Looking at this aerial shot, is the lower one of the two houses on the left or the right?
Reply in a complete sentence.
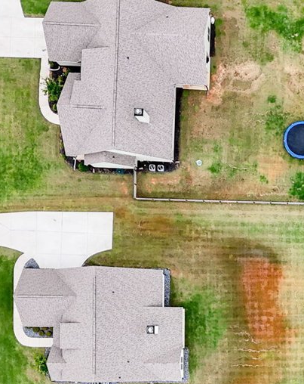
The lower one of the two houses sits on the left side.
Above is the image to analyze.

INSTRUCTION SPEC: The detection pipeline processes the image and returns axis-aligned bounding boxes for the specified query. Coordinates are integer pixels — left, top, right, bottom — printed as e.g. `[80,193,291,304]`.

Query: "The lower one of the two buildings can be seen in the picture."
[15,267,186,382]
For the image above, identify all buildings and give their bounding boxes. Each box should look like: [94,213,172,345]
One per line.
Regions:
[15,267,186,382]
[42,0,212,170]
